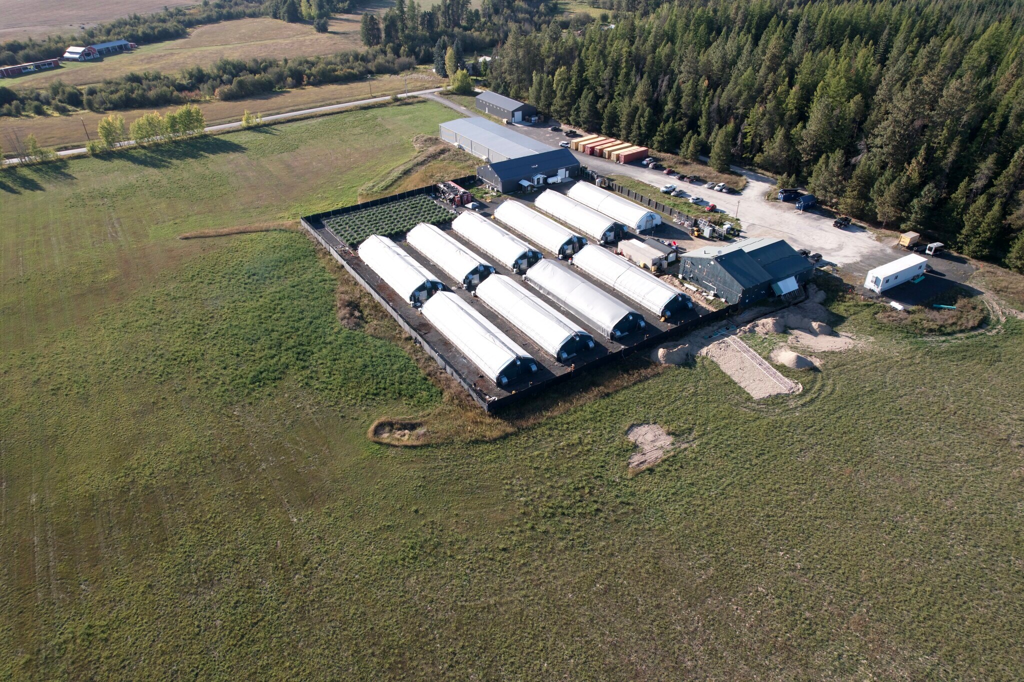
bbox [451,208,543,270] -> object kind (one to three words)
greenhouse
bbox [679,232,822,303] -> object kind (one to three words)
building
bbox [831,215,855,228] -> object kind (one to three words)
vehicle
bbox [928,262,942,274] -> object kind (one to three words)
vehicle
